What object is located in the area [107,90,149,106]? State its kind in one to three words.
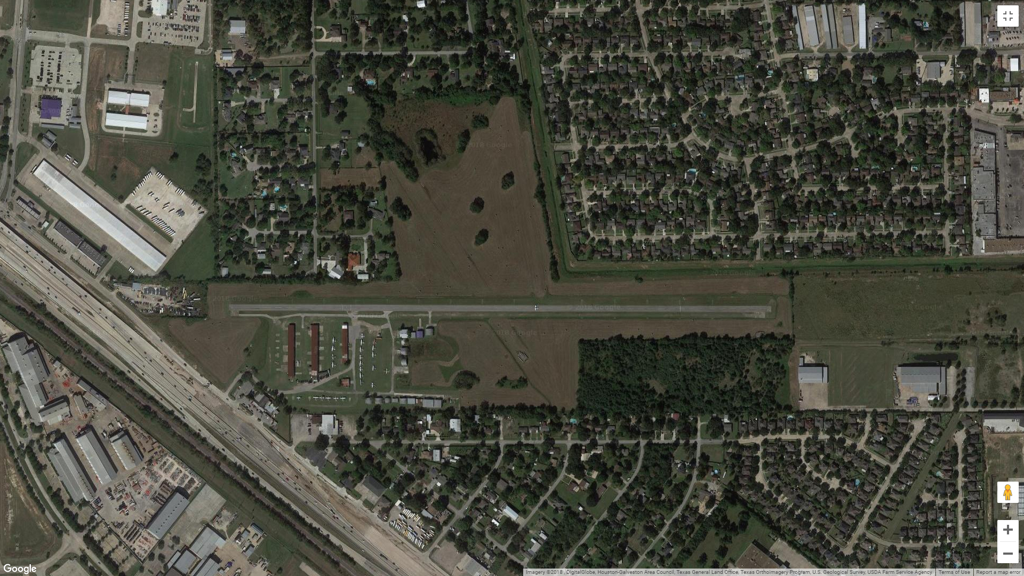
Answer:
barn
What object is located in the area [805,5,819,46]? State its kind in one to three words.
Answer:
shed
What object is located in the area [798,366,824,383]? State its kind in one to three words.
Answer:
hangar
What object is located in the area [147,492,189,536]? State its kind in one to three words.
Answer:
building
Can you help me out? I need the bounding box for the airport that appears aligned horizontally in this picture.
[229,304,771,402]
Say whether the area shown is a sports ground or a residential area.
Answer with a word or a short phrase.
residential area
